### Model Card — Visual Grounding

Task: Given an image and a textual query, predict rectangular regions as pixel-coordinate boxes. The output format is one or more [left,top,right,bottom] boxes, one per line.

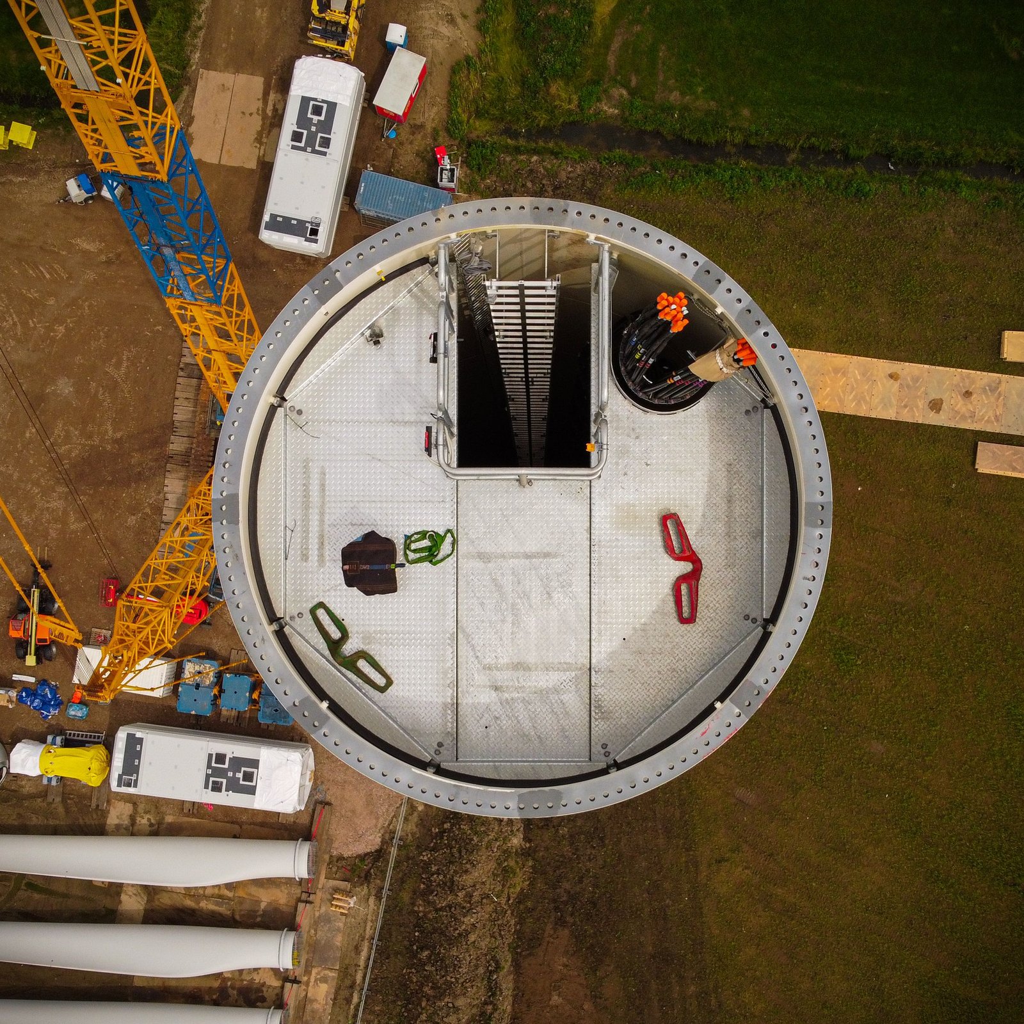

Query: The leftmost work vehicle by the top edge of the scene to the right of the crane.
[304,0,365,67]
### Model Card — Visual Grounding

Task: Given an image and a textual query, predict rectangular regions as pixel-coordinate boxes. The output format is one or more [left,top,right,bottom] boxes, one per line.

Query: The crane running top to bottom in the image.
[0,0,261,706]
